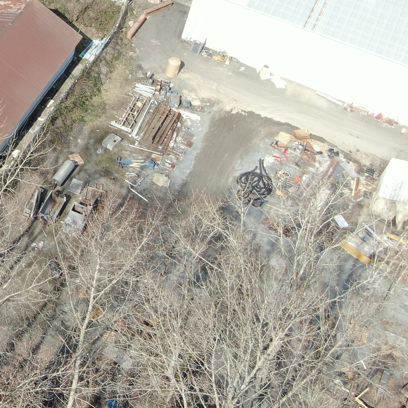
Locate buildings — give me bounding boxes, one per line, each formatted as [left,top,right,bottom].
[180,0,408,128]
[367,156,408,233]
[0,0,85,157]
